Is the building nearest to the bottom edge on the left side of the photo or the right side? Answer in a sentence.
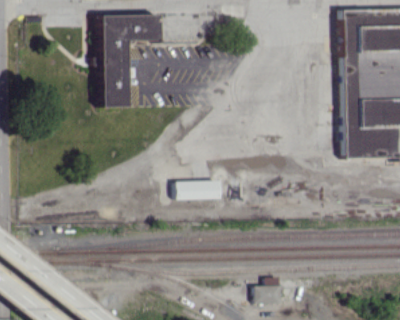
It is on the right.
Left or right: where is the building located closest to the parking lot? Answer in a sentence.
It is on the left.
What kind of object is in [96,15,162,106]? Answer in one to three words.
building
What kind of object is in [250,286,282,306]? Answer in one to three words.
building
